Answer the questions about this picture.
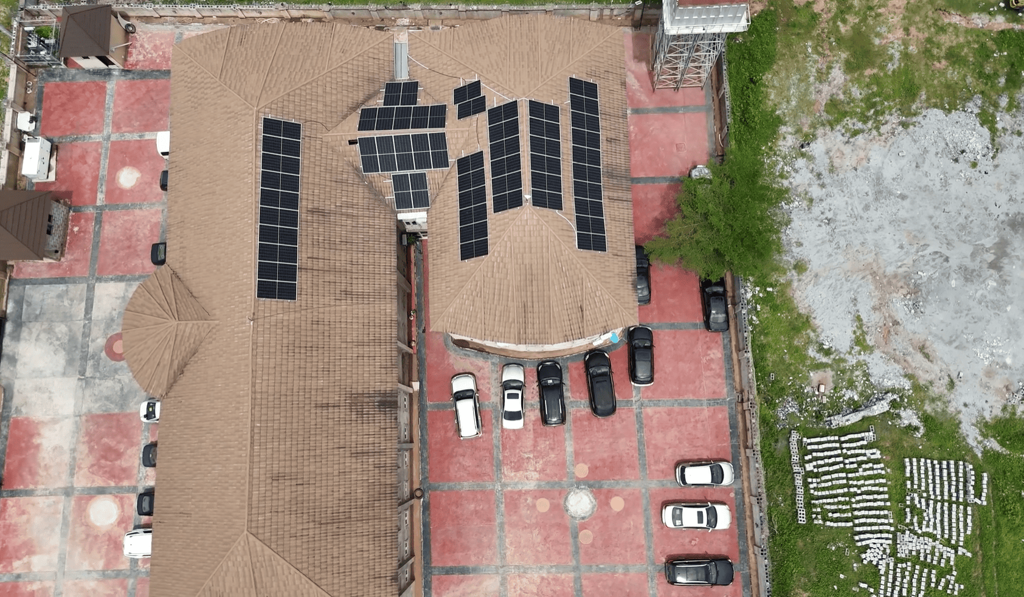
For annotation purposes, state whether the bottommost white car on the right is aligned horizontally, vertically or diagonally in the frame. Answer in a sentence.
The bottommost white car on the right runs horizontally in the image.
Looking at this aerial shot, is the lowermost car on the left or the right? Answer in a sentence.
The lowermost car appears in the right half of the scene.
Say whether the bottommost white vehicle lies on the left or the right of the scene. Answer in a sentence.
It is on the left.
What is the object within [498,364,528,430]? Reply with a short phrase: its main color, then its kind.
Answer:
white car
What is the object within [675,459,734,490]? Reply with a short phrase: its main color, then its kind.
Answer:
white car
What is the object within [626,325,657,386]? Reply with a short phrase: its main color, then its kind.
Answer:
black car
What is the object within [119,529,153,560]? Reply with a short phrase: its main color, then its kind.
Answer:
white vehicle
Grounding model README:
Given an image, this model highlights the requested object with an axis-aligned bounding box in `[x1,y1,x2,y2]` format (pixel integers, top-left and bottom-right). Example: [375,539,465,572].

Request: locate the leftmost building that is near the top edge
[59,5,132,74]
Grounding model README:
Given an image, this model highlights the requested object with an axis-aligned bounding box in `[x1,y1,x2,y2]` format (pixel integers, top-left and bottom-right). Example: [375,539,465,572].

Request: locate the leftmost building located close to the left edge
[0,192,73,264]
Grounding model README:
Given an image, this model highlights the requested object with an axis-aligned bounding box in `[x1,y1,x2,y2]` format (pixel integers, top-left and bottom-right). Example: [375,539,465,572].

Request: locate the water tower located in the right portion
[652,0,751,92]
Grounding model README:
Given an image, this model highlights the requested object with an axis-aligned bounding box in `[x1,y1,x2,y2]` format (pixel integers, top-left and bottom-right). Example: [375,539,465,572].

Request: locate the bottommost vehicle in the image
[664,557,735,592]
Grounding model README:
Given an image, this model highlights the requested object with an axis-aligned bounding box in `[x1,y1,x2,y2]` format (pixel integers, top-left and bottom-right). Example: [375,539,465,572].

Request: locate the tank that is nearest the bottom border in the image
[18,111,43,137]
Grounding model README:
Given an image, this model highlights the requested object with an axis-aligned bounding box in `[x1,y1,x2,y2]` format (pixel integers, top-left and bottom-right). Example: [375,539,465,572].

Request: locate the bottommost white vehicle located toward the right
[661,501,731,534]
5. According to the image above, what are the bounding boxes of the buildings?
[121,21,419,597]
[406,12,640,352]
[0,192,73,264]
[59,5,132,74]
